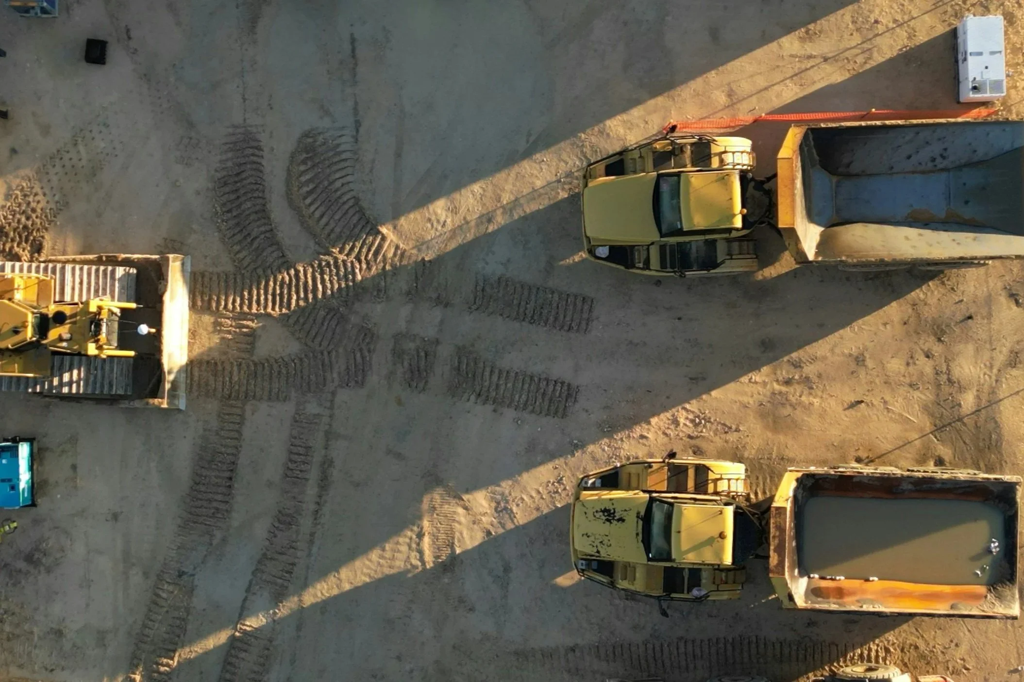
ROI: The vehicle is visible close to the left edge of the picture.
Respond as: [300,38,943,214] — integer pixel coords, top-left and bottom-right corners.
[0,254,190,412]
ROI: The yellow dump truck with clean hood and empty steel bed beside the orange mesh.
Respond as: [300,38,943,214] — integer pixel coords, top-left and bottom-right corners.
[576,111,1024,288]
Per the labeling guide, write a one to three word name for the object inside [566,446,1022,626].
truck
